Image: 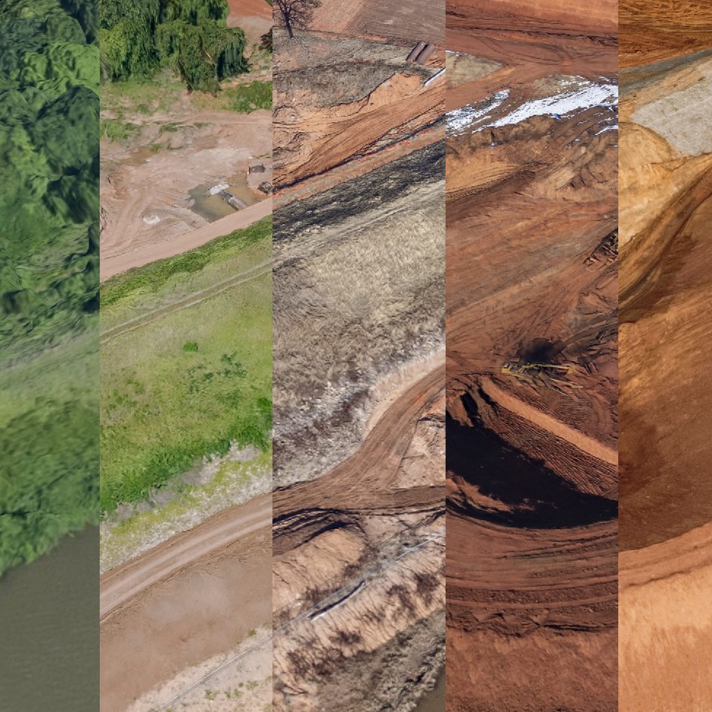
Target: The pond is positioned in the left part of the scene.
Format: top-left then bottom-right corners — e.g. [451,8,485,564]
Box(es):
[188,174,267,222]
